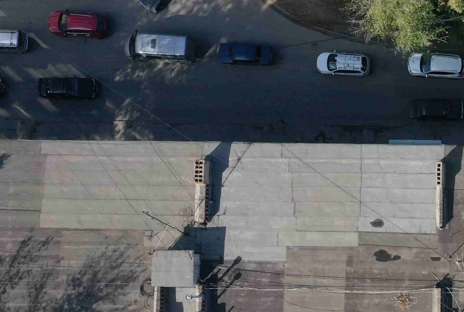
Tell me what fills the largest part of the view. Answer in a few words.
buildings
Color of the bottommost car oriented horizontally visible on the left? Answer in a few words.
black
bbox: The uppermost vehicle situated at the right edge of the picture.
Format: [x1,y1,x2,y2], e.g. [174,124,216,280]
[408,52,464,80]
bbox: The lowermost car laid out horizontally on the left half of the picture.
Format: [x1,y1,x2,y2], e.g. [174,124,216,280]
[38,74,100,101]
